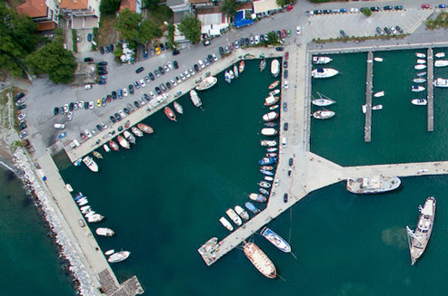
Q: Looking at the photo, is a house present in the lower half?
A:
No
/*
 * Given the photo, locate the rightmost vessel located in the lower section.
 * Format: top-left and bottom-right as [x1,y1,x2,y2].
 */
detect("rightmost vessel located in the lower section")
[406,197,437,267]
